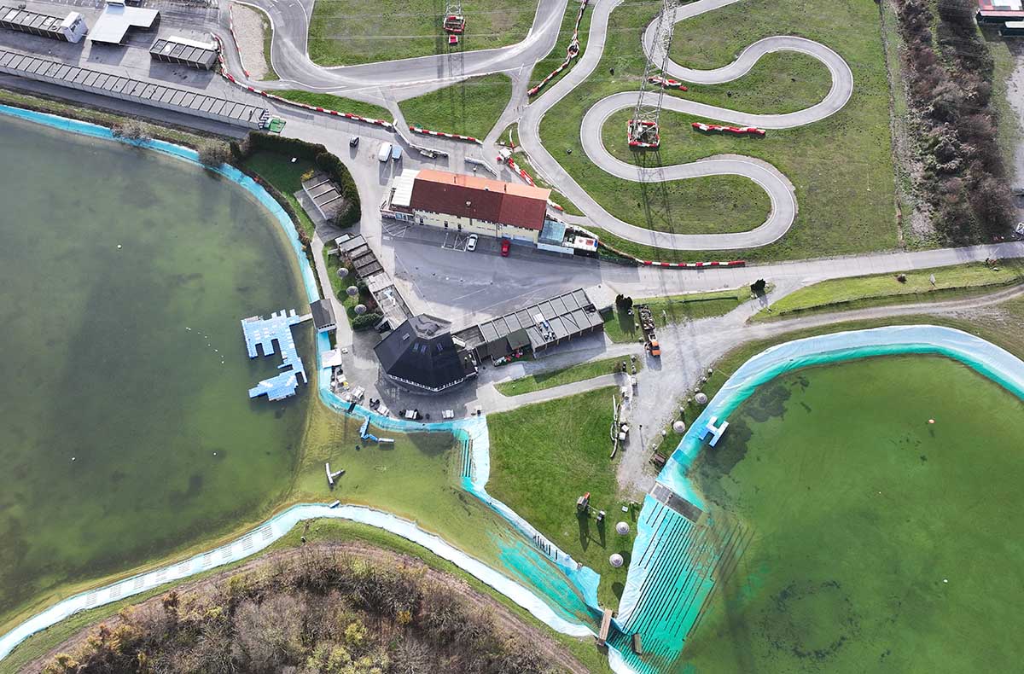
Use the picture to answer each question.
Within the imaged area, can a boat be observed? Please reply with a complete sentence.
No, the scene contains no boat.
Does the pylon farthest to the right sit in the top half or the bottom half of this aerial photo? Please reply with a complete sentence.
It is in the top half that the pylon farthest to the right appears.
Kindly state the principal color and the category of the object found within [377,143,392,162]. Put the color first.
white vehicle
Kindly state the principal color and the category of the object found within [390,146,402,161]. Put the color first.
white vehicle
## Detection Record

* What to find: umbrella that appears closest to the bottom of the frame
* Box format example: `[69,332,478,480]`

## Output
[609,554,622,568]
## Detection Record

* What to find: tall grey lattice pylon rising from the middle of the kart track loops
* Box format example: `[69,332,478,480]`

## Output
[625,0,684,146]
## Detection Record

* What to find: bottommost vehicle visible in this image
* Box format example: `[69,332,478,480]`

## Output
[645,329,665,357]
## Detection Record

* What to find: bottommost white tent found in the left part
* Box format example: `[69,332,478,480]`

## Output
[321,349,344,374]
